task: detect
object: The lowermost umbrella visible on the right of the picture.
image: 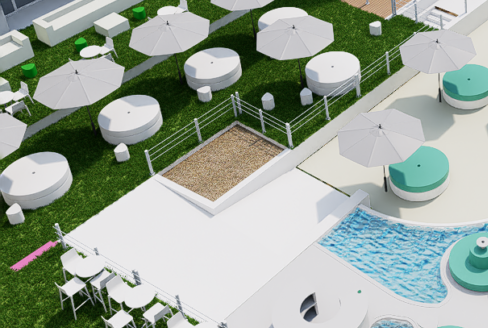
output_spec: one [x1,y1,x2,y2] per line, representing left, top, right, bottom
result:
[337,112,423,192]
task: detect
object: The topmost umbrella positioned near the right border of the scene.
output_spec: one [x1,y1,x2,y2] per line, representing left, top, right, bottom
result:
[399,32,477,103]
